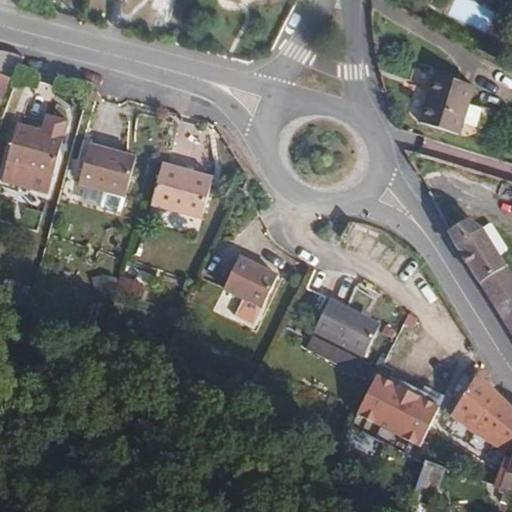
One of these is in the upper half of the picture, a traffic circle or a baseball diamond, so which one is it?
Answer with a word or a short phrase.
traffic circle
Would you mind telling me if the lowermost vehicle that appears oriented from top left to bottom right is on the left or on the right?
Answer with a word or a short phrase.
right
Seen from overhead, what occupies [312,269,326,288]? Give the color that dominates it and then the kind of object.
white vehicle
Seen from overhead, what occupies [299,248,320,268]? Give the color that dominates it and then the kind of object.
white car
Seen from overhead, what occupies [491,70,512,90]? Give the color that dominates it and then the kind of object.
white vehicle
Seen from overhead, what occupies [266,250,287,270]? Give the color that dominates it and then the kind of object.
gray car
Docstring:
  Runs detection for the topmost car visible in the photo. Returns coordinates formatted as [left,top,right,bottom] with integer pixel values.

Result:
[284,10,302,35]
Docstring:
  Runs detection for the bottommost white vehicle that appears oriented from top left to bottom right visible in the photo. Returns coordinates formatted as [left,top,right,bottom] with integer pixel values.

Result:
[416,276,438,304]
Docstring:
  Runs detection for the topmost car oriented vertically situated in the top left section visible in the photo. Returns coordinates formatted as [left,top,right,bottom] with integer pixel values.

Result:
[32,96,44,118]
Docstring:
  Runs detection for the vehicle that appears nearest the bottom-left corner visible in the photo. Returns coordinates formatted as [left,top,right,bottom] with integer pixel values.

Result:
[206,253,222,274]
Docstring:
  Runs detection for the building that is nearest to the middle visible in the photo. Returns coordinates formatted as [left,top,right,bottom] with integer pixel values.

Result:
[224,254,278,308]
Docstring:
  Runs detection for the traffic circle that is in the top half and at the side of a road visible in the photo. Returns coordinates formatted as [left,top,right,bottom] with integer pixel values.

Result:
[279,114,369,192]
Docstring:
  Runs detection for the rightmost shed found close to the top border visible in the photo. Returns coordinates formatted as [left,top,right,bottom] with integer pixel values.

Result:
[448,0,488,31]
